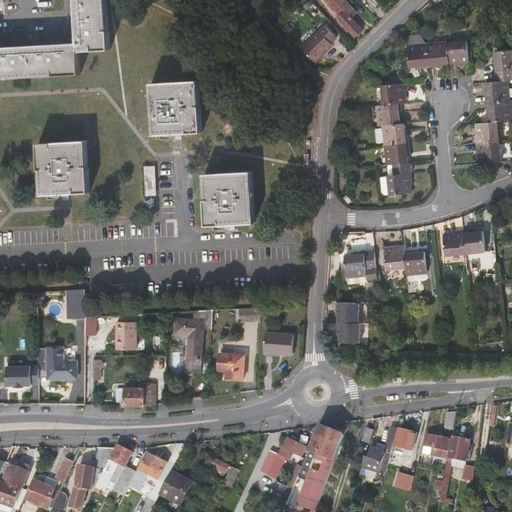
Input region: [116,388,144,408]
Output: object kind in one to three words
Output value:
house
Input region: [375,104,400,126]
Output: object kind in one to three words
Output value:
house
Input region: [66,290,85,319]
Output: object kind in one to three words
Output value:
building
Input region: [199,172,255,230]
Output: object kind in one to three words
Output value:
building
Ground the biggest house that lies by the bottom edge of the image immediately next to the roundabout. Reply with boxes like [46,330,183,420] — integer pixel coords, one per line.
[297,446,333,512]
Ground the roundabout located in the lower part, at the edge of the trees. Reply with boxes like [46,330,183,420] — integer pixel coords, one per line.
[290,364,346,420]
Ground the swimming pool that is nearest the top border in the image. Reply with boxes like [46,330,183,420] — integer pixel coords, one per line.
[47,302,64,318]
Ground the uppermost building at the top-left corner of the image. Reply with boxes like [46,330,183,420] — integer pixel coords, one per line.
[70,0,110,54]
